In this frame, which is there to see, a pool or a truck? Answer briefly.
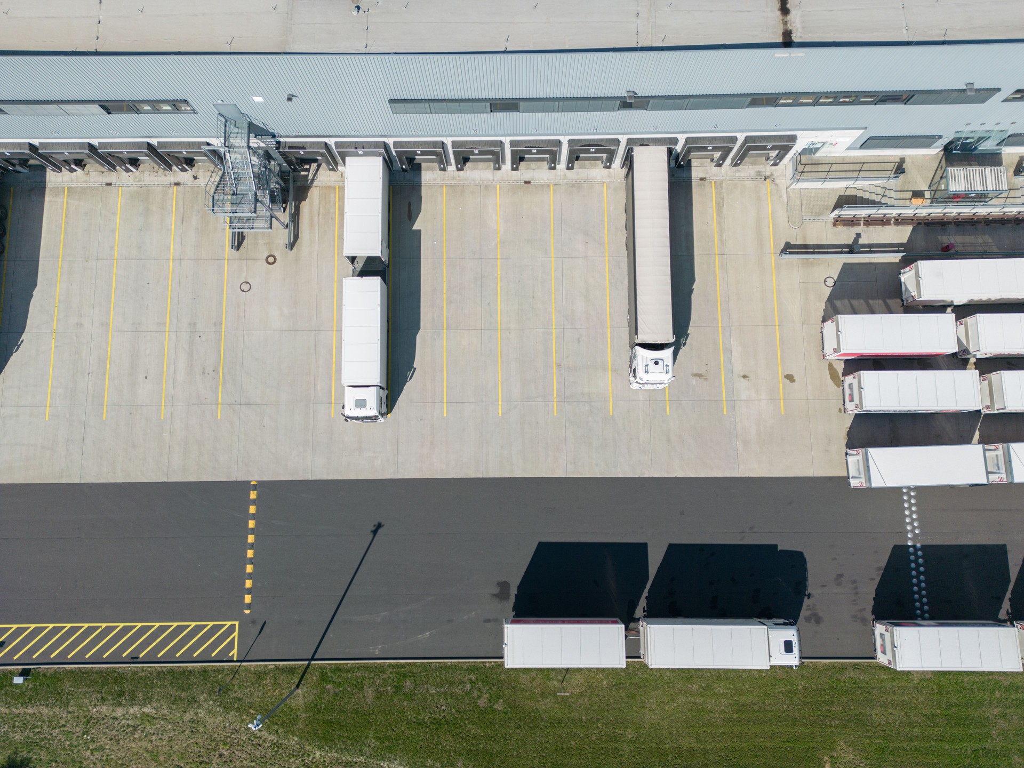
truck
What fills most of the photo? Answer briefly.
paved ground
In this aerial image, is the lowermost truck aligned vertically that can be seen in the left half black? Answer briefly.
No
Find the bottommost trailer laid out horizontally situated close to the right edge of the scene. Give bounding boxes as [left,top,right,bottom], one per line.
[869,616,1021,671]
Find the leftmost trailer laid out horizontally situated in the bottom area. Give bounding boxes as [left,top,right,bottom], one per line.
[503,613,634,667]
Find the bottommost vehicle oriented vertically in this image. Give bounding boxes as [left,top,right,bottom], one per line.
[1001,617,1024,665]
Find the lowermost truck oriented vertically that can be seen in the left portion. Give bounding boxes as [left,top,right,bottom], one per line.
[342,276,389,423]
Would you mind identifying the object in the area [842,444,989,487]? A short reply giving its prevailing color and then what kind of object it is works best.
white trailer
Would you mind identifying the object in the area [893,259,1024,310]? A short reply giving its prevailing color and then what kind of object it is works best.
white trailer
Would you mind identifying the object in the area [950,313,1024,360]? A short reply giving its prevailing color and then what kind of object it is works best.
white truck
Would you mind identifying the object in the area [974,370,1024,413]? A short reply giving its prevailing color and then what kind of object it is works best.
white truck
